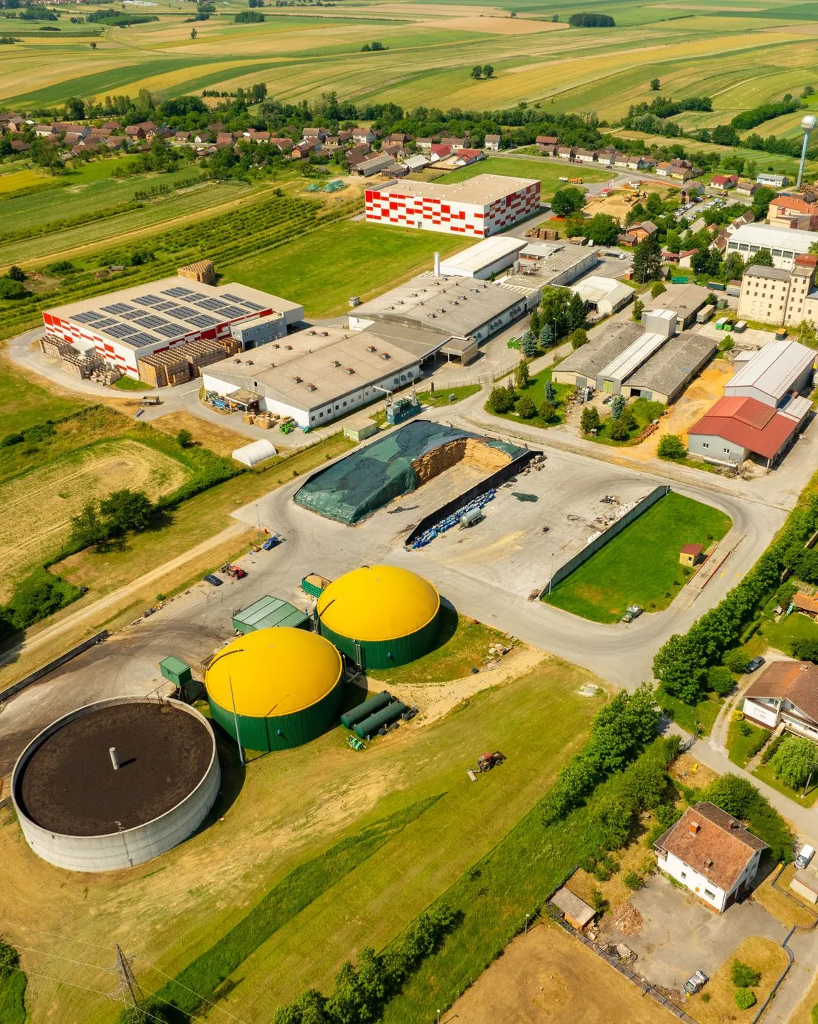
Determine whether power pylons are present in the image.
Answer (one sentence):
Yes, you can see a power pylon in this photo.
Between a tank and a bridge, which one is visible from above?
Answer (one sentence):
Looking from above, you can make out a tank.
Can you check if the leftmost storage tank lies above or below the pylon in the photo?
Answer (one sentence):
The leftmost storage tank is above the pylon.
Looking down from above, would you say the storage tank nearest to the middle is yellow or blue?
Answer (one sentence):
The color of the storage tank nearest to the middle is yellow.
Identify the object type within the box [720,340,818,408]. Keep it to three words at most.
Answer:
shed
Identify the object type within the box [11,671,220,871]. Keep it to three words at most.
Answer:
storage tank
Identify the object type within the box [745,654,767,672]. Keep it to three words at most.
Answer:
car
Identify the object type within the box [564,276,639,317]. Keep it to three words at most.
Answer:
house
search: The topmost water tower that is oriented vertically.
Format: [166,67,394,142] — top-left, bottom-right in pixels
[795,115,818,187]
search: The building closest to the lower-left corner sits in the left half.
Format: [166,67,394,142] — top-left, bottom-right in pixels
[160,655,199,702]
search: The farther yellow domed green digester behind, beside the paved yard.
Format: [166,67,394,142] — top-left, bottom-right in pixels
[315,566,441,668]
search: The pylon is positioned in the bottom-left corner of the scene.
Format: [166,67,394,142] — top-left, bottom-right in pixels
[96,944,143,1019]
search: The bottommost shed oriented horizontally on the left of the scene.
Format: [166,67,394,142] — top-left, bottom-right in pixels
[231,594,312,634]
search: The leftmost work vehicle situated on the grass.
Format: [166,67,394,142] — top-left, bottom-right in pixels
[458,748,506,770]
